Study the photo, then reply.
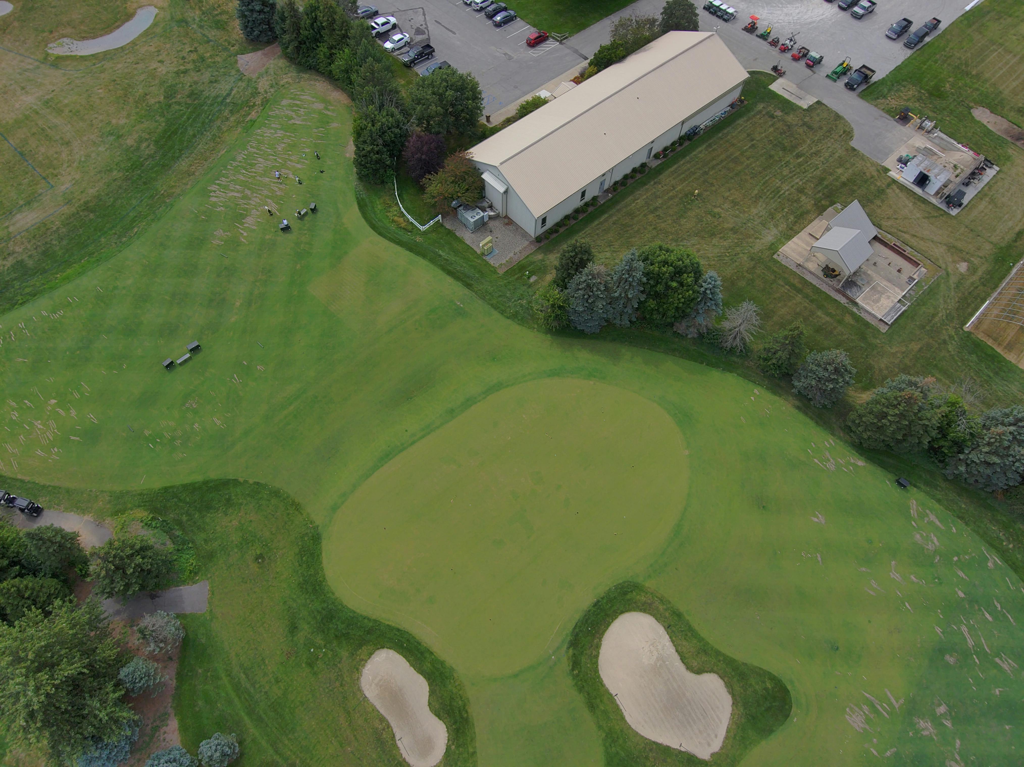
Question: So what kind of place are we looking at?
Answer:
golf course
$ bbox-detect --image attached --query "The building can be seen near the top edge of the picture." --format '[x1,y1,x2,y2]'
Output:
[468,28,750,235]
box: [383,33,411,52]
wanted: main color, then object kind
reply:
white car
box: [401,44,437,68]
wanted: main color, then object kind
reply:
black truck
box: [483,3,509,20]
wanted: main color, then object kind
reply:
black car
